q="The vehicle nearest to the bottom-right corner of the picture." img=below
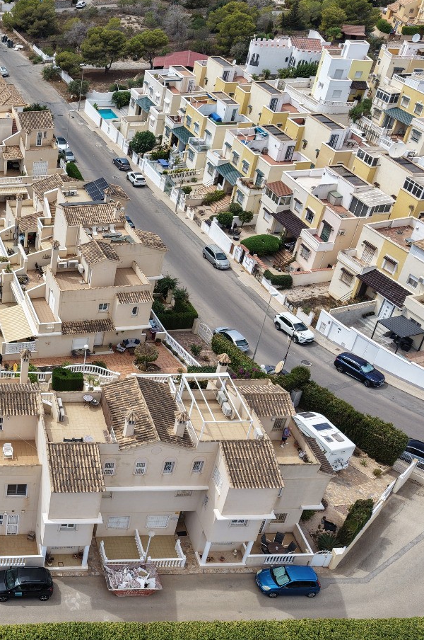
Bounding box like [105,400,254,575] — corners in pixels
[258,567,328,601]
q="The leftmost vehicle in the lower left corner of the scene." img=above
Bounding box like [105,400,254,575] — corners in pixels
[0,568,56,606]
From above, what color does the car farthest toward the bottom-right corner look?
blue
